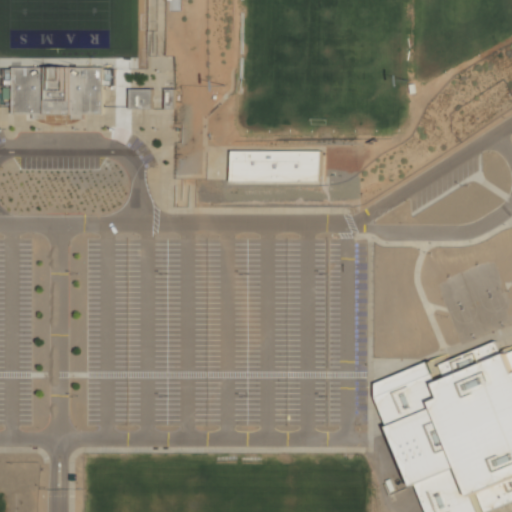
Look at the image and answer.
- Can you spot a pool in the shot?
No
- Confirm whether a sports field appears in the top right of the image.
Yes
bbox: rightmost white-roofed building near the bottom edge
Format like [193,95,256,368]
[372,341,512,512]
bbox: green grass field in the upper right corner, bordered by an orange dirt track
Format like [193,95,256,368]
[413,0,512,92]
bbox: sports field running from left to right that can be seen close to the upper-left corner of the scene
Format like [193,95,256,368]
[0,0,138,58]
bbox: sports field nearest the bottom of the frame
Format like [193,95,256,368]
[78,450,384,512]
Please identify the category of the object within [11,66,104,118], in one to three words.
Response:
building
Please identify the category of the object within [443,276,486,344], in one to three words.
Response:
basketball court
